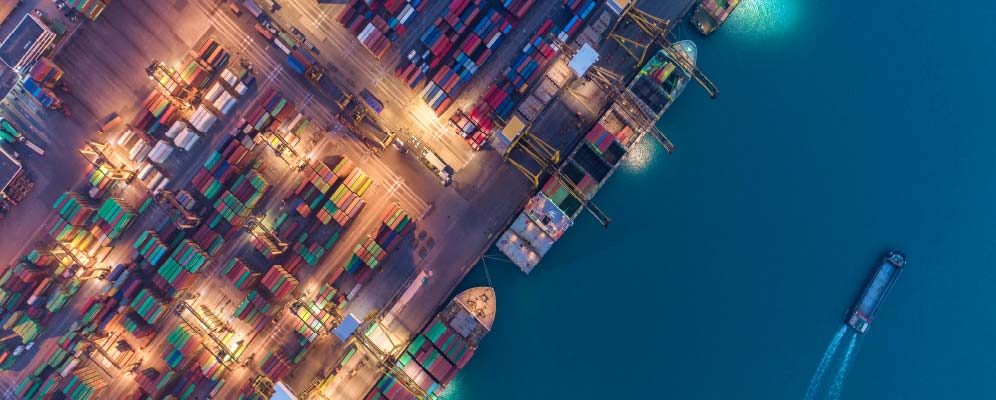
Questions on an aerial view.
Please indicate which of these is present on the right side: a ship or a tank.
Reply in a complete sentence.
It is a ship that can be seen on the right side.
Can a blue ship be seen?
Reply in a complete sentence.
Yes, you can see a blue ship in this photo.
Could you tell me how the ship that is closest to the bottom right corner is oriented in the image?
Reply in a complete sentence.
Seen from above, the ship that is closest to the bottom right corner lies on a diagonal.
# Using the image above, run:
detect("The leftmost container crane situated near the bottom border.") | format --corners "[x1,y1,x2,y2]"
[84,335,141,381]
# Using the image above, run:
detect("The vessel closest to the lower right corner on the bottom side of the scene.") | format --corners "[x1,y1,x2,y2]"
[848,255,907,333]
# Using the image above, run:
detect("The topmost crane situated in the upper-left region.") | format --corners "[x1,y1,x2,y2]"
[146,62,200,107]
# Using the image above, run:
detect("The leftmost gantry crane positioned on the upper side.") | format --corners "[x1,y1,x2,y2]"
[83,138,140,180]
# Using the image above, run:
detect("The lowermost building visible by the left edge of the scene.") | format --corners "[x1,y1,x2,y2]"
[0,147,29,195]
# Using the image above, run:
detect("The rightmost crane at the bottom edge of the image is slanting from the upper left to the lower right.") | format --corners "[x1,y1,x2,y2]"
[324,305,426,400]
